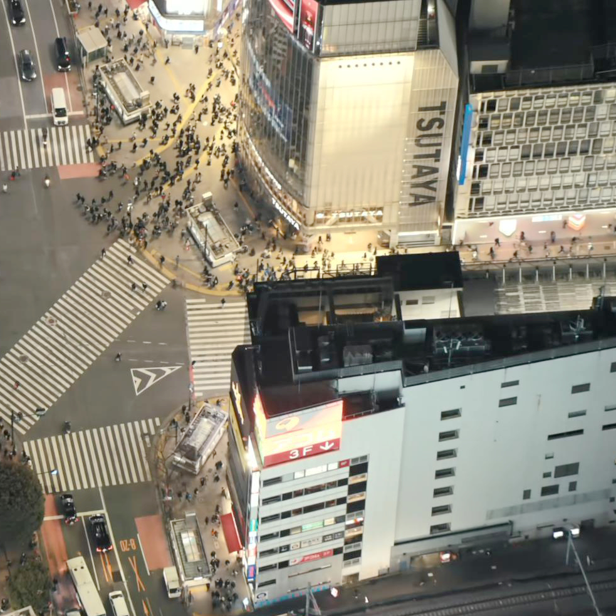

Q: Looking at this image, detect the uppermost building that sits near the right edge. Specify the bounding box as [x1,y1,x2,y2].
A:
[454,0,616,249]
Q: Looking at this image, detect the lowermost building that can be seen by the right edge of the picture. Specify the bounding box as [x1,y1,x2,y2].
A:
[391,284,616,569]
